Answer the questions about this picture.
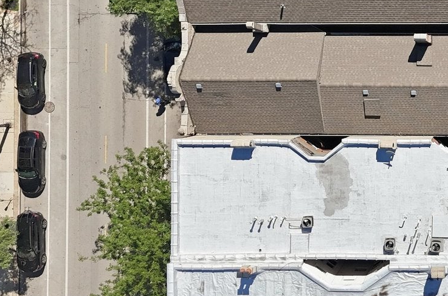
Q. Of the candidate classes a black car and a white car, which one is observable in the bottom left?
black car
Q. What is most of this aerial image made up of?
buildings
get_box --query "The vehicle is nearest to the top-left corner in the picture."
[9,51,46,110]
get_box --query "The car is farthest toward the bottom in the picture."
[10,205,46,276]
